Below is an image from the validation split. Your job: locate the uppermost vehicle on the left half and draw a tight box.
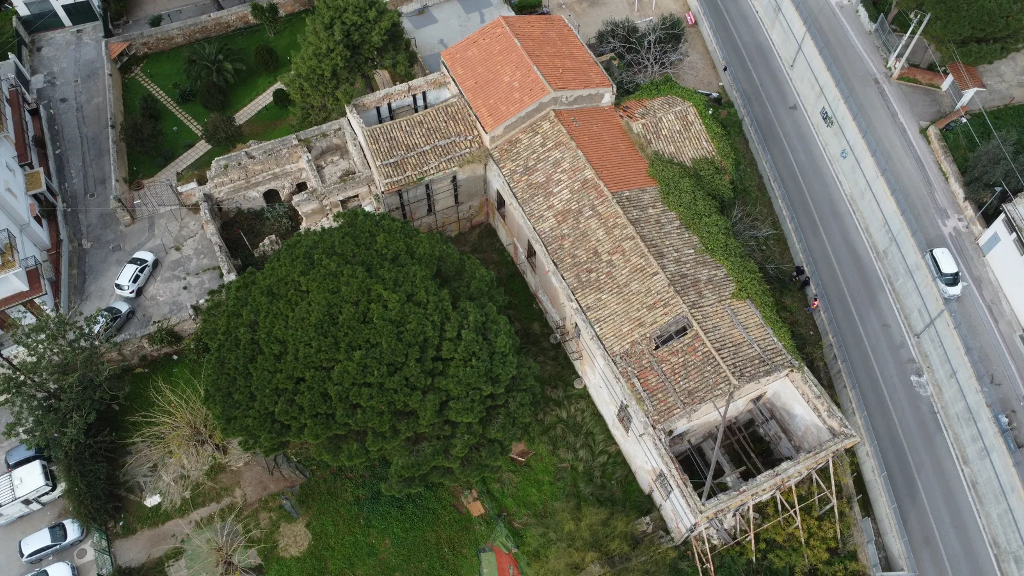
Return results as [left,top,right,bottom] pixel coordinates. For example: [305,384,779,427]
[104,246,158,297]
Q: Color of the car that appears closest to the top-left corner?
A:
white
